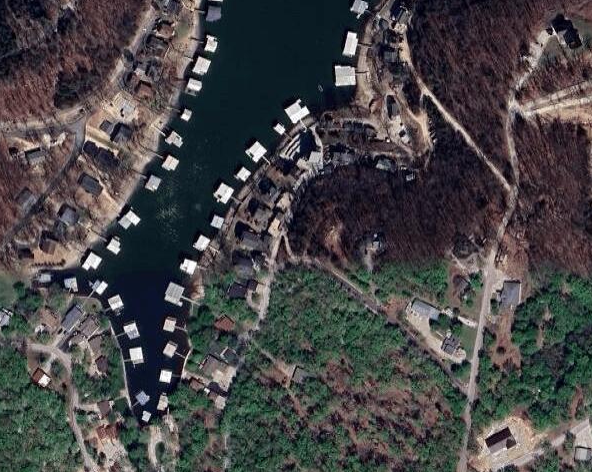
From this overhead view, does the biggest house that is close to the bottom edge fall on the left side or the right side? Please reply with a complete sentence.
You can find the biggest house that is close to the bottom edge on the right side of the picture.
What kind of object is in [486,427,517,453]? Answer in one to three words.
house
